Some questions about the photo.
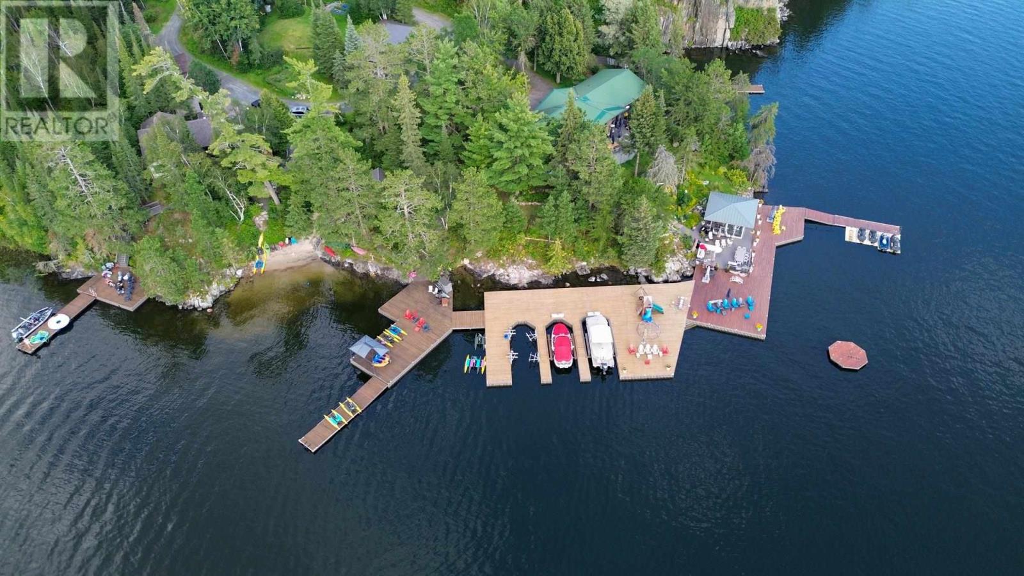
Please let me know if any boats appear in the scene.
Yes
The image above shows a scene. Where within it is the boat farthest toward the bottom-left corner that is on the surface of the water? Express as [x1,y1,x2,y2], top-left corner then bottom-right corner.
[10,308,51,337]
